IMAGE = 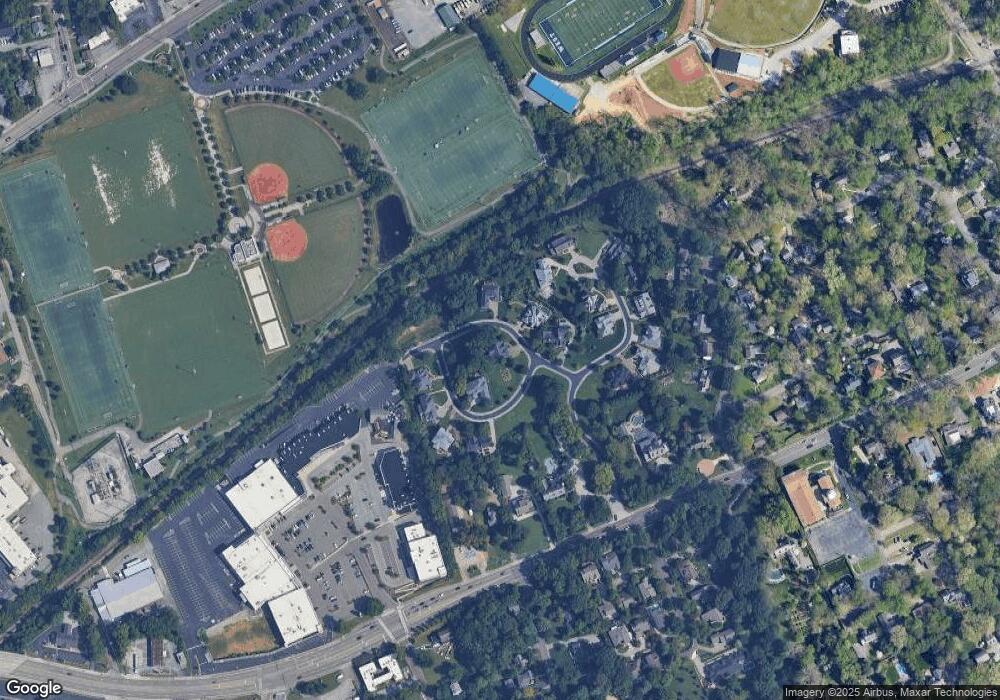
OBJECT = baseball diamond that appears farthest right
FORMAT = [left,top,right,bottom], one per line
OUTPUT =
[701,0,826,51]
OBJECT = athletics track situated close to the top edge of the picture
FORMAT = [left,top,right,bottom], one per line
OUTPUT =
[517,0,685,86]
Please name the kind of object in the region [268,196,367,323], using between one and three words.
baseball field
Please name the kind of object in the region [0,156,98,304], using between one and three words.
soccer field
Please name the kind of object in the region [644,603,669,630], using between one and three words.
house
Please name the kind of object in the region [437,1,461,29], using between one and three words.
building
